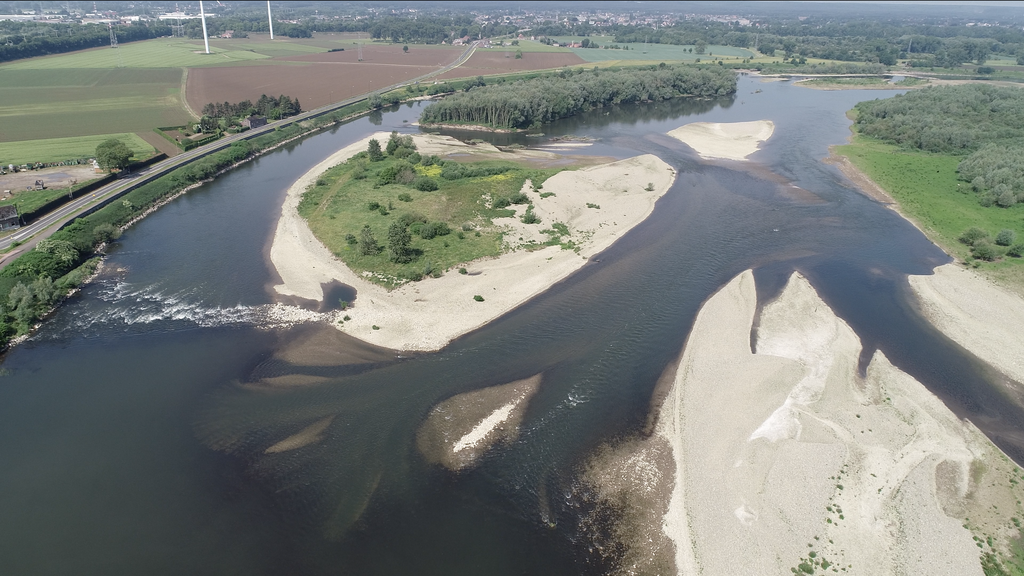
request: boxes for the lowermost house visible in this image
[0,196,31,235]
